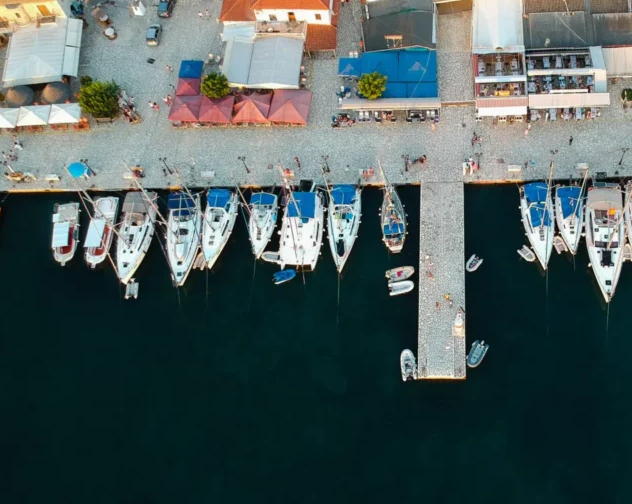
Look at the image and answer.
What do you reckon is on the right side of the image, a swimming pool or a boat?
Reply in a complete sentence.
You can see a boat on the right side of the image.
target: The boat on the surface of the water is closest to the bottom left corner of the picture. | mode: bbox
[125,282,137,300]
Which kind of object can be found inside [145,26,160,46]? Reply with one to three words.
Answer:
car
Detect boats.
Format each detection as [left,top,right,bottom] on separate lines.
[401,350,417,383]
[467,253,483,271]
[467,338,493,368]
[384,266,414,281]
[129,161,204,288]
[51,192,83,268]
[555,236,570,256]
[173,164,239,272]
[125,282,137,300]
[84,190,122,271]
[71,164,163,295]
[386,281,414,296]
[520,156,559,272]
[275,159,324,289]
[555,169,589,257]
[585,167,632,307]
[321,161,365,275]
[193,250,205,271]
[517,243,536,261]
[378,165,406,258]
[236,178,280,268]
[624,242,632,262]
[272,270,296,285]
